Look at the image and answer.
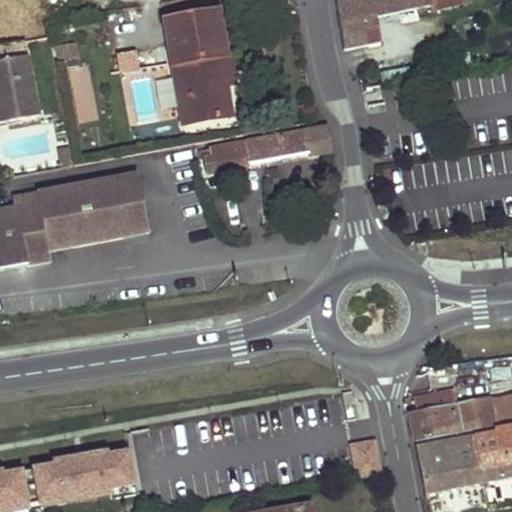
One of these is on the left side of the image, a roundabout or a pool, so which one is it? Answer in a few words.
pool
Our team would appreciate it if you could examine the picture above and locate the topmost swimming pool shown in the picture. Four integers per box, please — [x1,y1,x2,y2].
[130,77,160,122]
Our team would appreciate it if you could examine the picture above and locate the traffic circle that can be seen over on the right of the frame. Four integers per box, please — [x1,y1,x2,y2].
[336,275,410,349]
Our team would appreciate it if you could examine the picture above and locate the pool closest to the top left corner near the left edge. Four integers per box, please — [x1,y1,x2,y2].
[0,128,52,160]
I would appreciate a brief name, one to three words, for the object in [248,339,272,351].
vehicle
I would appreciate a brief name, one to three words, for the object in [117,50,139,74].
building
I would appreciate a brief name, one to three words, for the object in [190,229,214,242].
vehicle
